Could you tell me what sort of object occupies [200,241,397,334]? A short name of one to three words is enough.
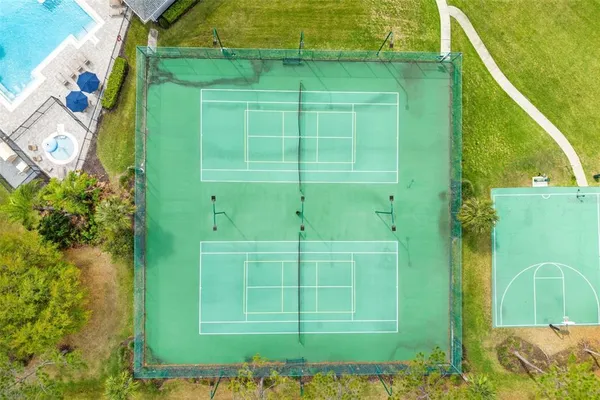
tennis court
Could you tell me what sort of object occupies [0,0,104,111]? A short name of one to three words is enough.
swimming pool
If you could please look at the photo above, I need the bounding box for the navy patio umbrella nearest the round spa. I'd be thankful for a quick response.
[66,90,91,114]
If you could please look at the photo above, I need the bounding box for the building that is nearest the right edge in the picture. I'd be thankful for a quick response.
[121,0,179,30]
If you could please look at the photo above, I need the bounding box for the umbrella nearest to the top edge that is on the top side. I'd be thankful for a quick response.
[76,70,102,94]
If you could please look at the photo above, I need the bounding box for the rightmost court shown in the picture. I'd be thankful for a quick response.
[492,187,600,328]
